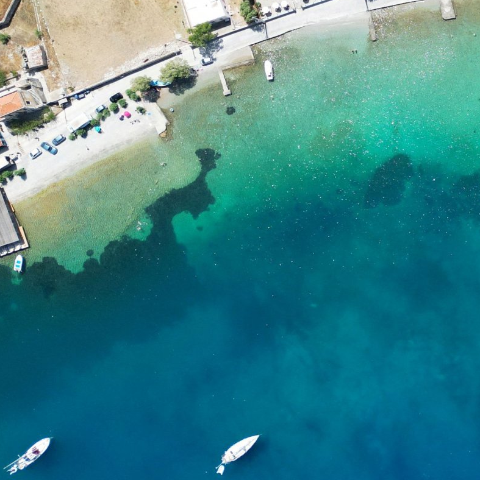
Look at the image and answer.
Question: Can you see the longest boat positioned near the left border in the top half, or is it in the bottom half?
bottom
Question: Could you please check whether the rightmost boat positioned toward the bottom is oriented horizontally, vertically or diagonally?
diagonally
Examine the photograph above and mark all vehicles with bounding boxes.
[106,92,123,102]
[92,102,107,114]
[0,151,18,169]
[50,133,66,145]
[27,148,42,160]
[38,141,57,154]
[62,112,92,133]
[199,56,214,66]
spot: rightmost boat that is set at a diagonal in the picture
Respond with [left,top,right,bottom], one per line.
[222,436,258,466]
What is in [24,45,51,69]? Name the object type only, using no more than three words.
house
